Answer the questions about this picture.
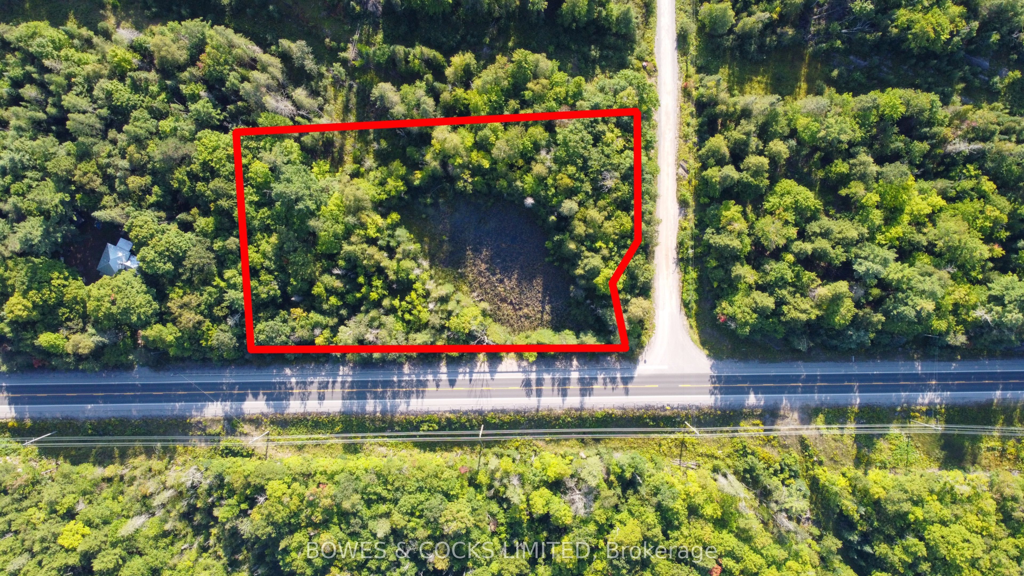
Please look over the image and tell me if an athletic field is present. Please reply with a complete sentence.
No, there isn't any athletic field down there.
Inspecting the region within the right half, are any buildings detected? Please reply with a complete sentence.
No, there is no building within the right half.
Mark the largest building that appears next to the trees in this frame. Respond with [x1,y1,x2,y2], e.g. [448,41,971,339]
[97,238,143,279]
